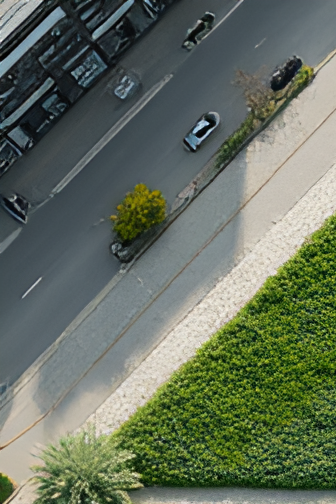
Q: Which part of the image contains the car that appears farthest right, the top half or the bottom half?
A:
top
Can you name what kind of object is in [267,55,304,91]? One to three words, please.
car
